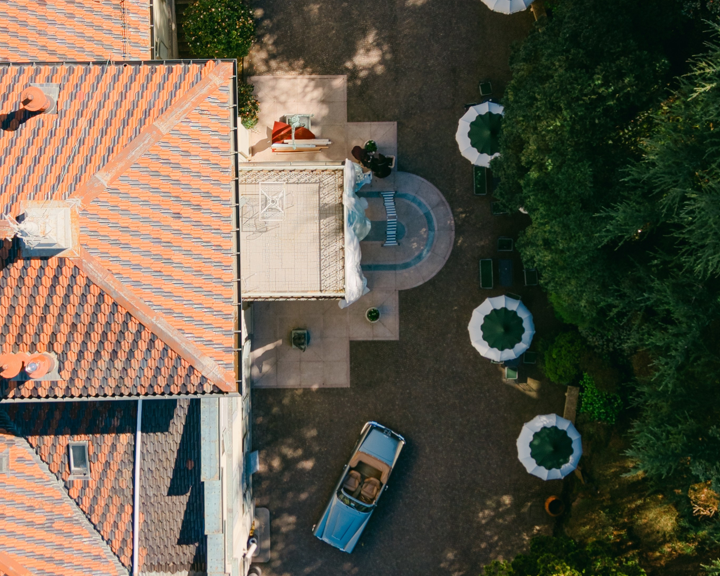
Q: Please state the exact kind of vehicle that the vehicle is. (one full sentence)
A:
The vehicle is a car.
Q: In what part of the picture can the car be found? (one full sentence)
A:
The car is located in the bottom region of the scene.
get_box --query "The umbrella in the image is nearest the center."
[468,295,531,358]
